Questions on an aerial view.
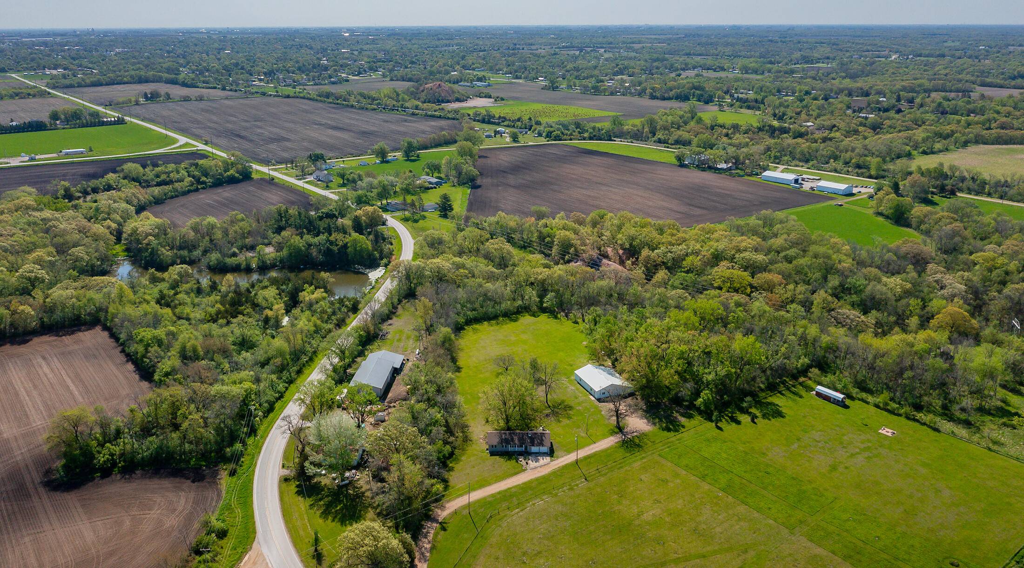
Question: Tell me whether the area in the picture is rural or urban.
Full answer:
It looks rural.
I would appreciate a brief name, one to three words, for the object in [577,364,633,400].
barn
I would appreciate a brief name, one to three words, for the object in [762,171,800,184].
shed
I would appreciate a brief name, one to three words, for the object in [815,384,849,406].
building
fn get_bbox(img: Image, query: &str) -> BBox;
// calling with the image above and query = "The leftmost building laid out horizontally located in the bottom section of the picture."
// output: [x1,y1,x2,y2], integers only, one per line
[487,431,551,457]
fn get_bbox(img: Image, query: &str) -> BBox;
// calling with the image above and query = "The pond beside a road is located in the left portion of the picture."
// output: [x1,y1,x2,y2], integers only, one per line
[111,260,383,310]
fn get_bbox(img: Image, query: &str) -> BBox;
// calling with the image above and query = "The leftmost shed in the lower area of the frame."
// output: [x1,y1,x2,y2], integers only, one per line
[348,349,410,397]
